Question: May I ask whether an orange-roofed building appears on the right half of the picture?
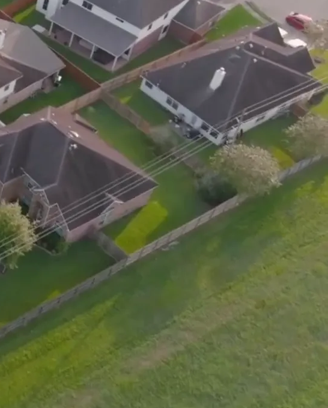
No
